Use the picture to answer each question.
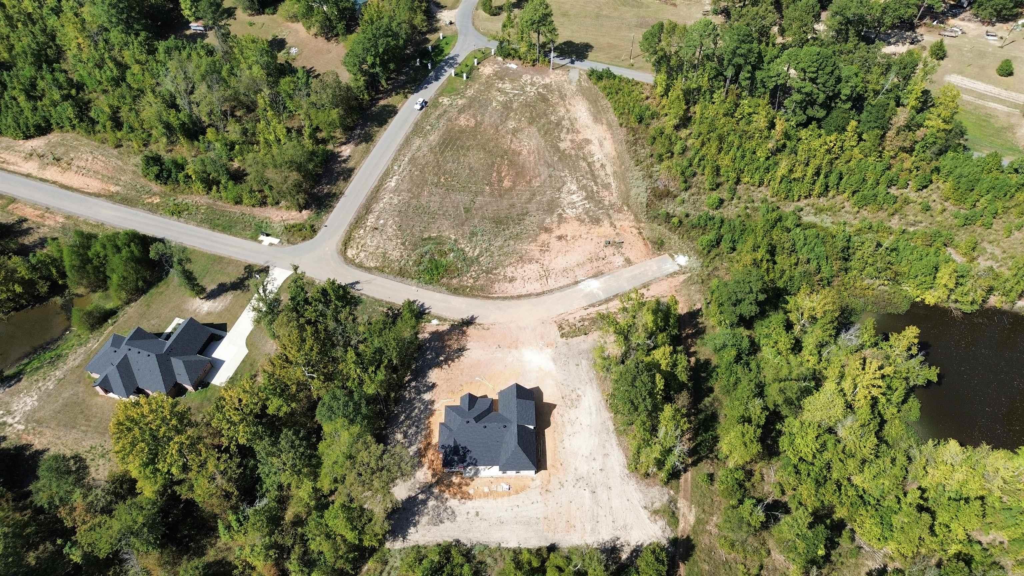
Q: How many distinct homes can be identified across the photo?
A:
2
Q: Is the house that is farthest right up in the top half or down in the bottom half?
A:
bottom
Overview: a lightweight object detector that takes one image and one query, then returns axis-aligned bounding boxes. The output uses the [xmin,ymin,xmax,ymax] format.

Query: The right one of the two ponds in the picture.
[862,304,1024,448]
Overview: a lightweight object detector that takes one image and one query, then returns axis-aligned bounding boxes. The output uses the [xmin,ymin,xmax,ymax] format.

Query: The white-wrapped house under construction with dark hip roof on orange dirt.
[437,381,537,476]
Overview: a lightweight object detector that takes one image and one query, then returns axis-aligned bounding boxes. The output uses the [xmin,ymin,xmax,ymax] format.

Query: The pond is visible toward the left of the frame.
[0,298,80,373]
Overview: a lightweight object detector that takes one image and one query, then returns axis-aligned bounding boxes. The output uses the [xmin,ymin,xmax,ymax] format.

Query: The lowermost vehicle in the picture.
[413,96,426,110]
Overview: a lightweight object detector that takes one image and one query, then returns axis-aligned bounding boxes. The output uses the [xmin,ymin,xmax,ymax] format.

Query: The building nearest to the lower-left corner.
[84,315,215,408]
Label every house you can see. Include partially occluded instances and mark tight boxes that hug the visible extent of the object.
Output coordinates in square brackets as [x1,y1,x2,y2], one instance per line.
[437,381,537,476]
[84,315,215,408]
